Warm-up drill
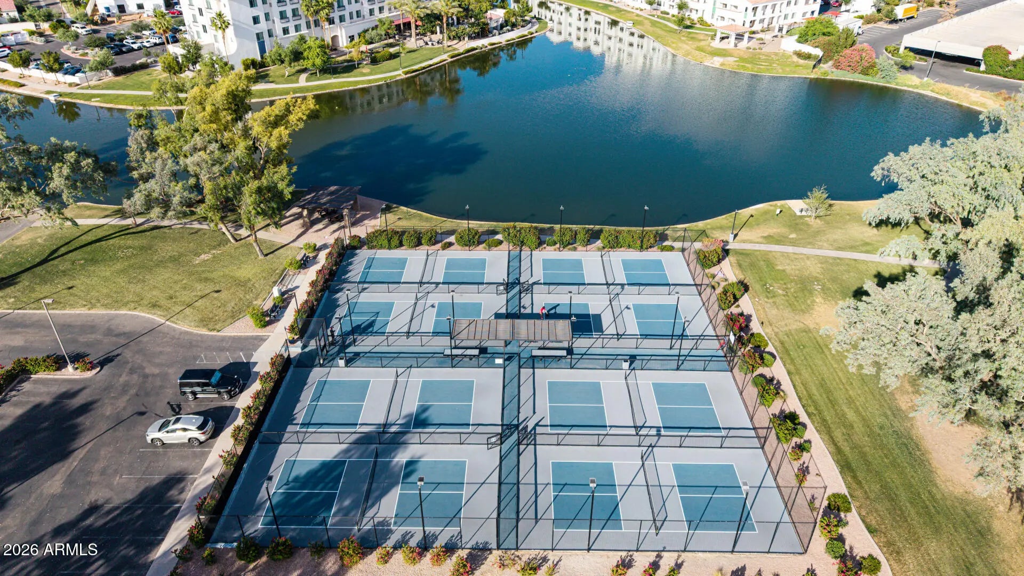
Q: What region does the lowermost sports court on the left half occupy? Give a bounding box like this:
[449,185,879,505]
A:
[259,459,467,528]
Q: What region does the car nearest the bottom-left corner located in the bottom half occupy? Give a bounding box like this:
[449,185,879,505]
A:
[145,411,219,443]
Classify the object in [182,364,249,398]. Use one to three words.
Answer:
car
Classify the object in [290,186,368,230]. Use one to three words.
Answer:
building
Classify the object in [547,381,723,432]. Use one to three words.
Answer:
sports court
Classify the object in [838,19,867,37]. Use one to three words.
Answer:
vehicle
